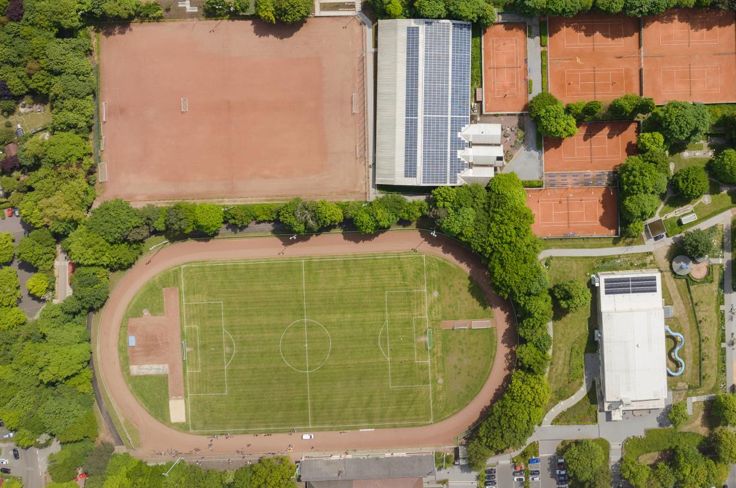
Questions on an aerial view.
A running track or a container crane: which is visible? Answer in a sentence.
There is a running track in the scene.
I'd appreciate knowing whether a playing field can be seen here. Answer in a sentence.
Yes, a playing field can be made out from above.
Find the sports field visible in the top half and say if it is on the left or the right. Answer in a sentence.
The sports field visible in the top half is on the left side of the image.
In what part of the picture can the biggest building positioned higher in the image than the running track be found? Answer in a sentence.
Look in the top portion of the view to spot the biggest building positioned higher in the image than the running track.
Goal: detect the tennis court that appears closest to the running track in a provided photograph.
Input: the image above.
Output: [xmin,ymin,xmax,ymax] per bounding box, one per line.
[523,187,619,238]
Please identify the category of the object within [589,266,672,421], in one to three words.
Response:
building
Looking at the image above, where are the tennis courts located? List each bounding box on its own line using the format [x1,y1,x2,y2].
[643,10,736,57]
[549,60,642,104]
[643,55,736,105]
[483,22,528,113]
[523,187,619,238]
[542,120,641,172]
[547,15,641,62]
